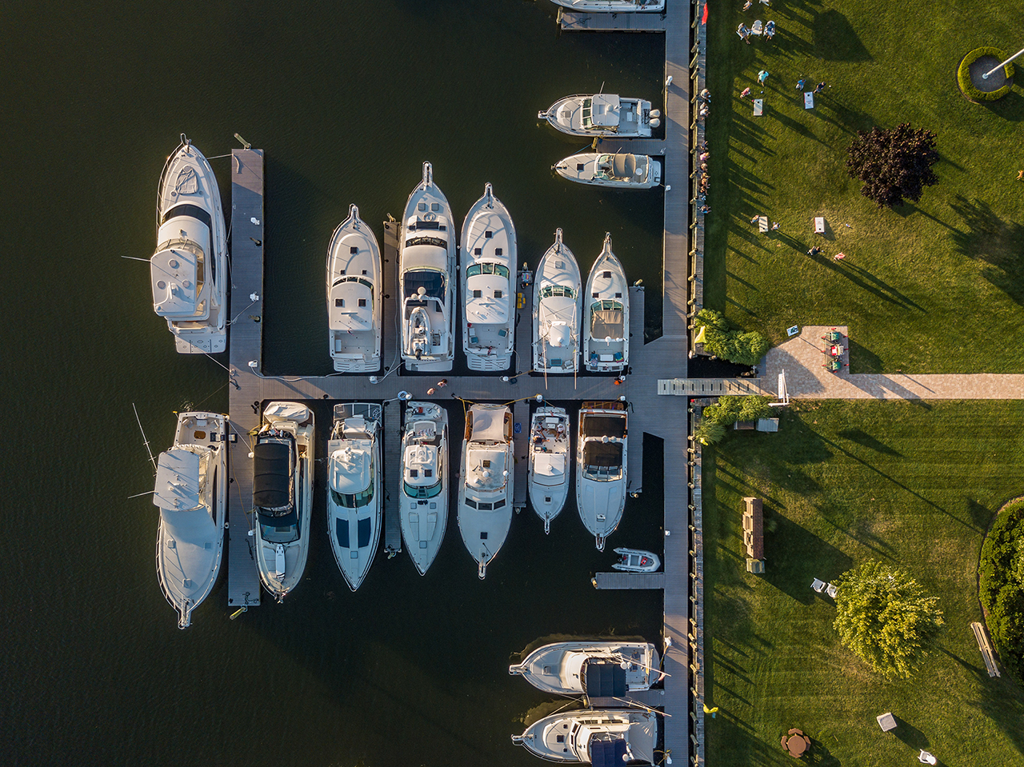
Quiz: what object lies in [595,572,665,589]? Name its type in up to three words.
pier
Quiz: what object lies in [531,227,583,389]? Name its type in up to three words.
boat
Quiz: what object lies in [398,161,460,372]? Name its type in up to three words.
boat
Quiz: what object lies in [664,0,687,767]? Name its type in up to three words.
pier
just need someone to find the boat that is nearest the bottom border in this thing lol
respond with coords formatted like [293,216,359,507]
[511,706,656,767]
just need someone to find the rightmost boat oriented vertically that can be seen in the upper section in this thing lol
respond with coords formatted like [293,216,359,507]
[583,232,630,373]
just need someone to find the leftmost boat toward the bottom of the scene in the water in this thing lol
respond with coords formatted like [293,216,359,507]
[124,403,239,629]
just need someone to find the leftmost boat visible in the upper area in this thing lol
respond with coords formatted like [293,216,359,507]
[124,134,232,353]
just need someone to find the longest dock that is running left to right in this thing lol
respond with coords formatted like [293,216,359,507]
[262,376,629,399]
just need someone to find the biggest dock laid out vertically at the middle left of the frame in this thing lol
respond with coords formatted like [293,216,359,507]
[229,149,265,606]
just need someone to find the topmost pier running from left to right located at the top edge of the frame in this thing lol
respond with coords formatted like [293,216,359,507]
[561,13,665,32]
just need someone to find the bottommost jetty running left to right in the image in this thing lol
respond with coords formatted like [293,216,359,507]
[590,688,665,707]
